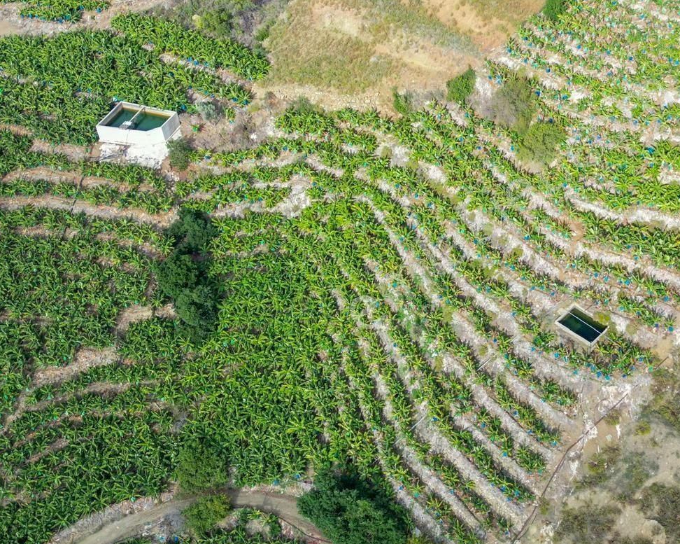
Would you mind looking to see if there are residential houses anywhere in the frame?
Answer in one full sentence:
No, there appears to be no residential house in this shot.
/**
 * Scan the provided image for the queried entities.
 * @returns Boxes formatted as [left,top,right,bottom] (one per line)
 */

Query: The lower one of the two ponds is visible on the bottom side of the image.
[554,304,623,352]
